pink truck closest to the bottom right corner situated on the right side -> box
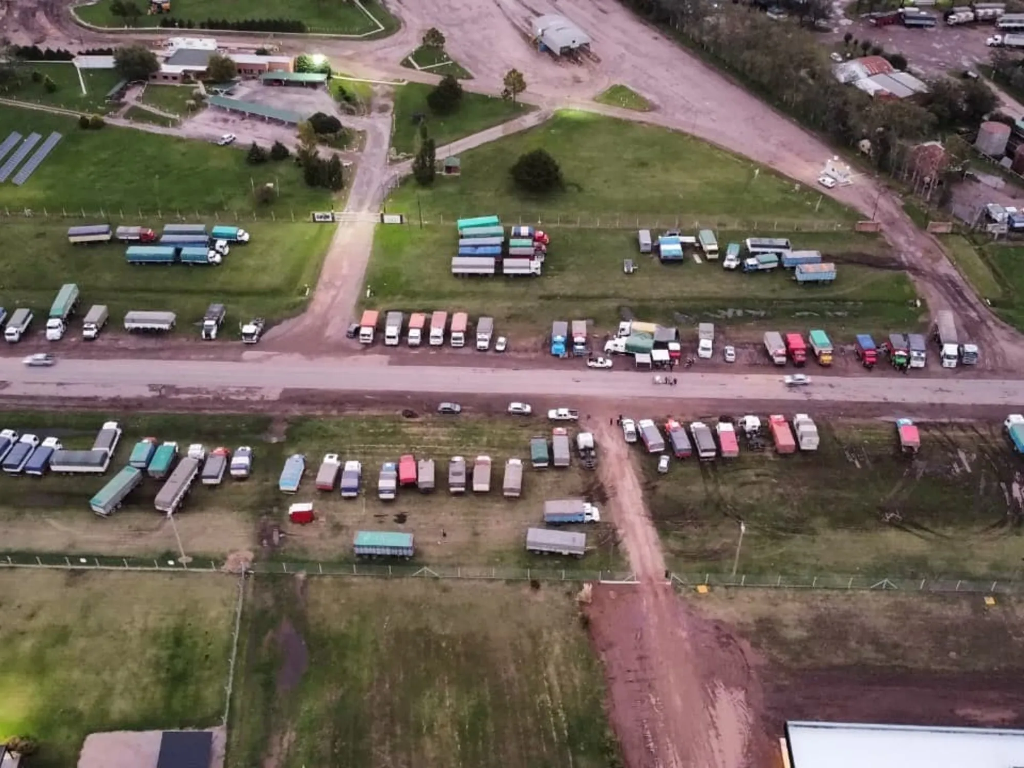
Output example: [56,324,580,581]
[895,422,922,452]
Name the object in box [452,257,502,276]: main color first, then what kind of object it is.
white trailer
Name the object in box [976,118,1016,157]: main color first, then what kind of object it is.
gray storage tank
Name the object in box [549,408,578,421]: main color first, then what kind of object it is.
white vehicle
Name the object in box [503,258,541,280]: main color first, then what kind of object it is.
white truck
